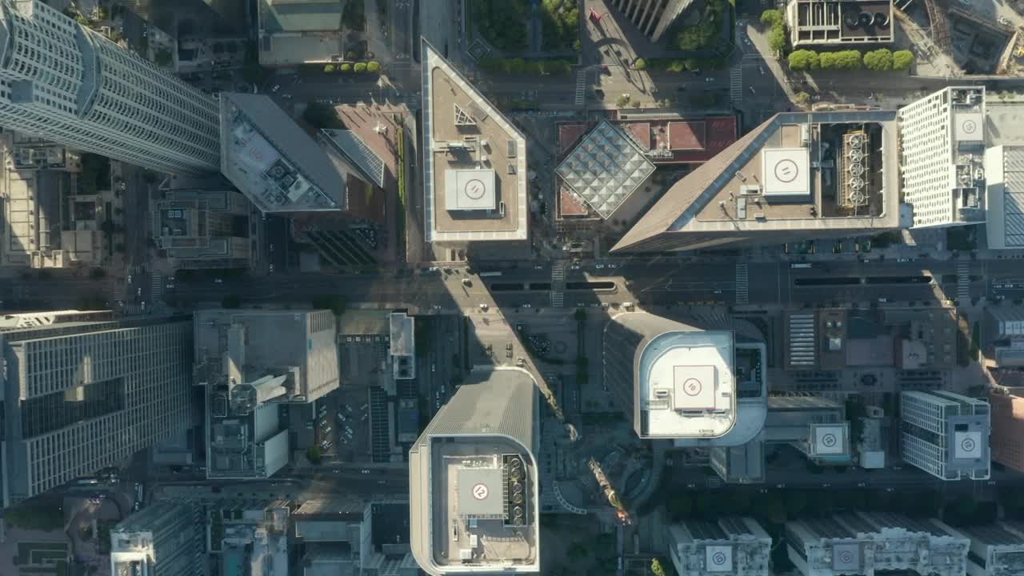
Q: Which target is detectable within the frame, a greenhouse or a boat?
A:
greenhouse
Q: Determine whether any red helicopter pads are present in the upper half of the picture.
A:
No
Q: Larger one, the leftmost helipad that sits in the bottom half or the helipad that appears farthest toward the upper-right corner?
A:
the leftmost helipad that sits in the bottom half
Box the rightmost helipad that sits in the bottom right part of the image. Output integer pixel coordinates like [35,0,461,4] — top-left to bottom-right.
[954,432,981,458]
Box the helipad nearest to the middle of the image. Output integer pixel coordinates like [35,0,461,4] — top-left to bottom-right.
[446,170,496,210]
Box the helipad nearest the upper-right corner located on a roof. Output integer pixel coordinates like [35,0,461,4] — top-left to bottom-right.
[954,113,983,141]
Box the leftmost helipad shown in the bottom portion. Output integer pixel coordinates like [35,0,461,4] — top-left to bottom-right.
[459,467,504,515]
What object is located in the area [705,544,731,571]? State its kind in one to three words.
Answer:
helipad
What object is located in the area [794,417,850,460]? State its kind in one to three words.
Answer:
building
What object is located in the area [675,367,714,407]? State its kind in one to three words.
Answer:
helipad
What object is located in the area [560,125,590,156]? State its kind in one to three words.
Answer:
building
